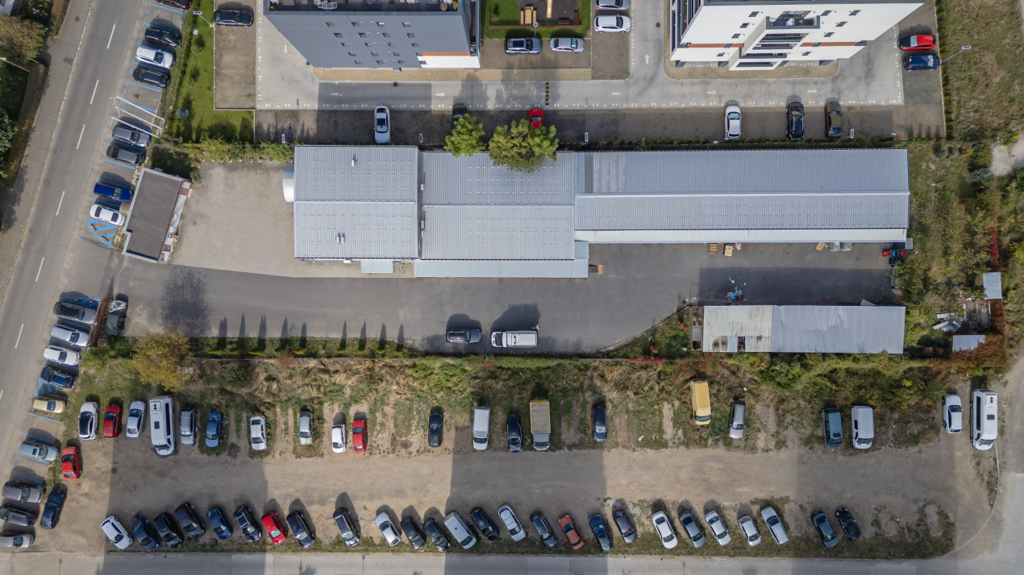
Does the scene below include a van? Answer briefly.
Yes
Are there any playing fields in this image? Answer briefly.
No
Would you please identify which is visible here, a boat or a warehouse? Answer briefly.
warehouse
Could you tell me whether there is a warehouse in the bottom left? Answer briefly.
No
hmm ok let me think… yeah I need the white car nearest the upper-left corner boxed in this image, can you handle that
[136,46,174,69]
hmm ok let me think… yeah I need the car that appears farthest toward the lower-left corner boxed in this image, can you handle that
[0,531,35,551]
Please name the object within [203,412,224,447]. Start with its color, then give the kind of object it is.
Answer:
blue car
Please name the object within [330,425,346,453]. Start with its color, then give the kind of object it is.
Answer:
white car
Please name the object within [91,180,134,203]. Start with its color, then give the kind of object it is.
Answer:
blue truck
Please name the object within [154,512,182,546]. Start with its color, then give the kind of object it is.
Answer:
black car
